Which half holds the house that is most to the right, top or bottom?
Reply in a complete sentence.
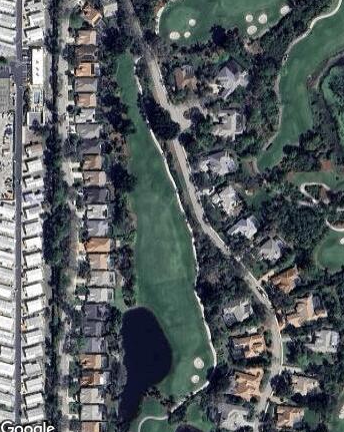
The house that is most to the right sits in the bottom half of the picture.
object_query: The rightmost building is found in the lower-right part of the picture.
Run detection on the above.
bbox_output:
[311,331,339,352]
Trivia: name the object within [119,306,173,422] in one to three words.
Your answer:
pond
